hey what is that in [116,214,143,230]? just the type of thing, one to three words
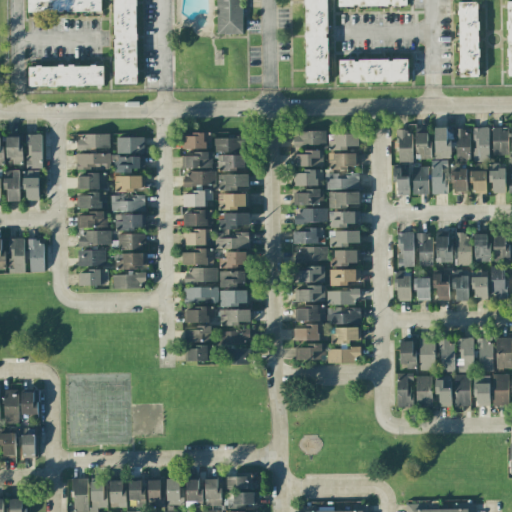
house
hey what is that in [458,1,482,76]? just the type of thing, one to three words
building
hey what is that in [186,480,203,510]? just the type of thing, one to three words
house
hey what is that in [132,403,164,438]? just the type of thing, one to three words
basketball court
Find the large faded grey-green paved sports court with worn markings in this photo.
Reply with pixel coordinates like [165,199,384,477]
[66,372,132,446]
